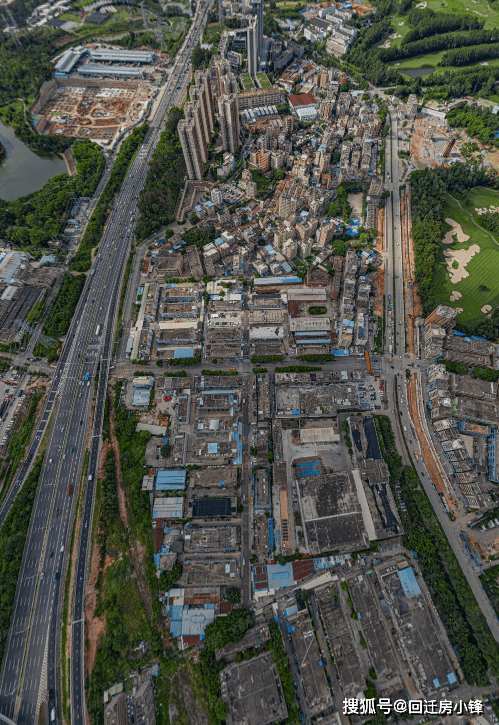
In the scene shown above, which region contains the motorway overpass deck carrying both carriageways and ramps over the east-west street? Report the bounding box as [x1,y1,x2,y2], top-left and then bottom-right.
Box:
[53,349,111,382]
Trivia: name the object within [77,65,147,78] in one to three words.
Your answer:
shed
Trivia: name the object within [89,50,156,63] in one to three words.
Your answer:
shed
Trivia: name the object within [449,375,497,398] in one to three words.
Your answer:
building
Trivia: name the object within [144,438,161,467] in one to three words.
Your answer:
building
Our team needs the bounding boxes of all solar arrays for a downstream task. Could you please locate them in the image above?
[193,498,231,515]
